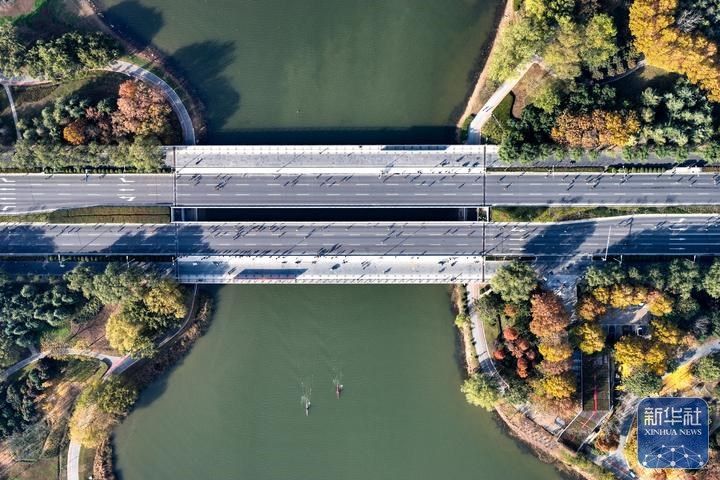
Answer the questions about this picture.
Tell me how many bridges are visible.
2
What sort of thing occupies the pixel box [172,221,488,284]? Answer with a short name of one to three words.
bridge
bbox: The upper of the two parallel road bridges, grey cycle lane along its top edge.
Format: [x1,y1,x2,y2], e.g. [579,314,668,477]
[172,145,488,208]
